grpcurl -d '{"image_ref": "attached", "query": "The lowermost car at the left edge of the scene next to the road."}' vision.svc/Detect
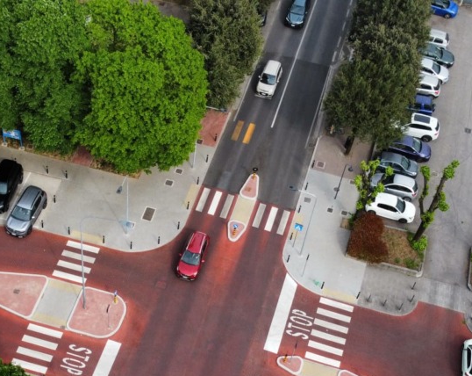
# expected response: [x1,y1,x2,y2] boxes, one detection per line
[9,185,45,235]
